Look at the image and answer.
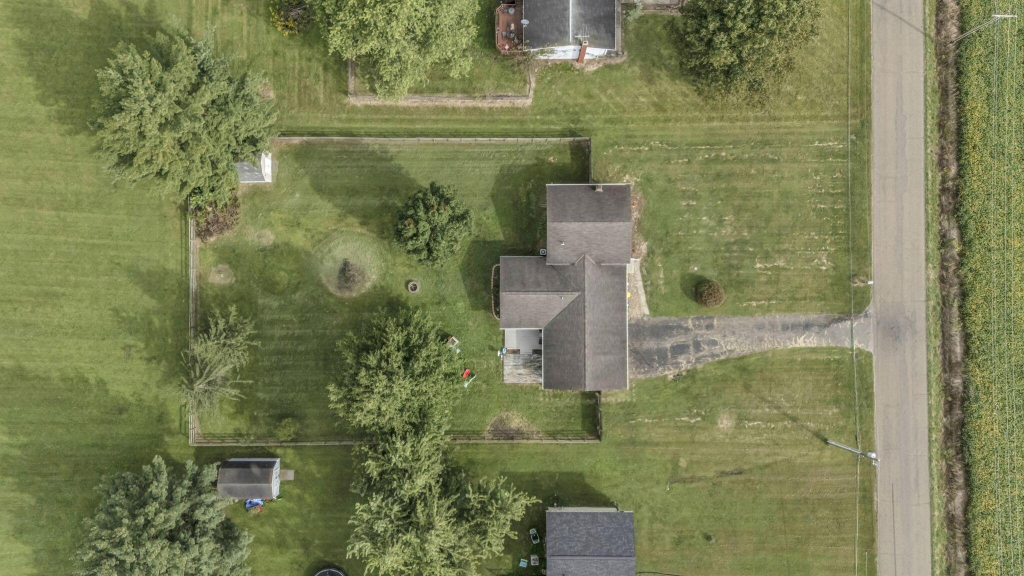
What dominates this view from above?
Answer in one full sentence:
The largest share of the image is taken up by grass.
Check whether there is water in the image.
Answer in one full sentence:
No, water can't be seen anywhere here.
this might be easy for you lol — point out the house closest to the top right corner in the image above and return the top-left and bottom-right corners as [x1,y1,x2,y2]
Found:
[523,0,616,64]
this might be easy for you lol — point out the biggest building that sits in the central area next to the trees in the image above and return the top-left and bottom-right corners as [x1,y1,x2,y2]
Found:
[500,182,640,391]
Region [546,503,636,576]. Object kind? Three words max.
house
